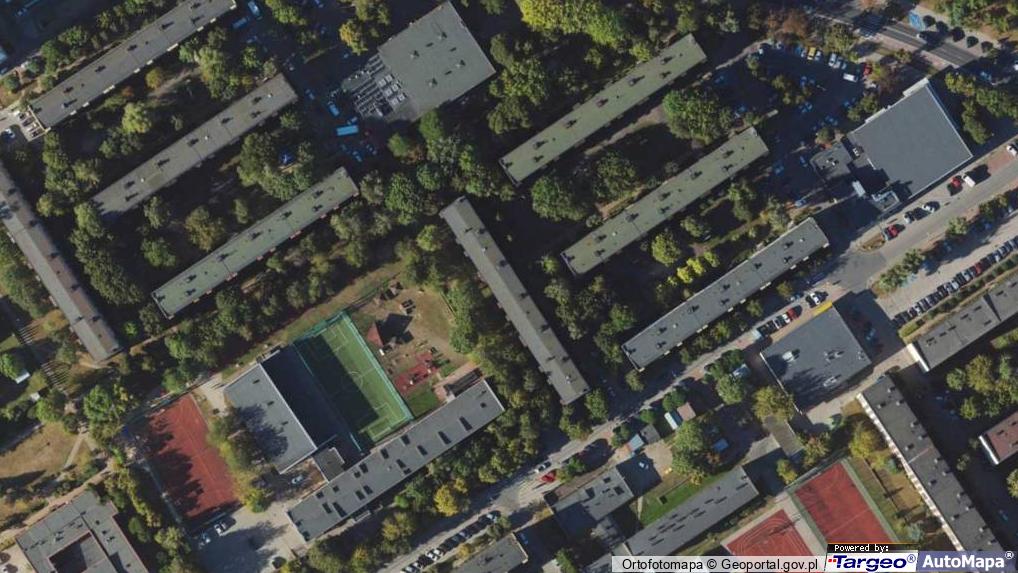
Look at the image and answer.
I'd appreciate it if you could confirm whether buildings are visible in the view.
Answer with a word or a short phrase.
Yes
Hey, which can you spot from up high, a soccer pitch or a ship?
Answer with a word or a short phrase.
soccer pitch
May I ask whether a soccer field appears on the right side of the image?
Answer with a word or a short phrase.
No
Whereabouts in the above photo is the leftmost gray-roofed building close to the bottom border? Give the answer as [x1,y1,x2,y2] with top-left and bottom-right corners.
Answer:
[15,491,150,573]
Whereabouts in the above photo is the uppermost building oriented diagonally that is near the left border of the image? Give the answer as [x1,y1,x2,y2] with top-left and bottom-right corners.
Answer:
[29,0,241,131]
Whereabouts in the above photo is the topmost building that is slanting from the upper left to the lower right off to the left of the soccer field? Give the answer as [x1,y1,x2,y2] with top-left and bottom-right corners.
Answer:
[0,171,122,364]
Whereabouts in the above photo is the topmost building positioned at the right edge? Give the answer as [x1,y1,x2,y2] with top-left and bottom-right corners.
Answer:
[807,78,972,211]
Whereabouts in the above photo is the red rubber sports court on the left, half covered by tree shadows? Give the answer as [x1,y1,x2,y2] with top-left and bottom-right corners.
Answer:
[138,394,240,526]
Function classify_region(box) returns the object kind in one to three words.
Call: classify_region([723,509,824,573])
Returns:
sports court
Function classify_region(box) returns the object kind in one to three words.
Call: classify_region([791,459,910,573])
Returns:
sports court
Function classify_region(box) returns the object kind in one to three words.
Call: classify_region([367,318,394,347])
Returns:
shed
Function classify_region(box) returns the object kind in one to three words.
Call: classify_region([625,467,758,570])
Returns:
building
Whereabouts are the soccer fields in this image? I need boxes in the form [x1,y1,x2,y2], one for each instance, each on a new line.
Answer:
[290,311,416,452]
